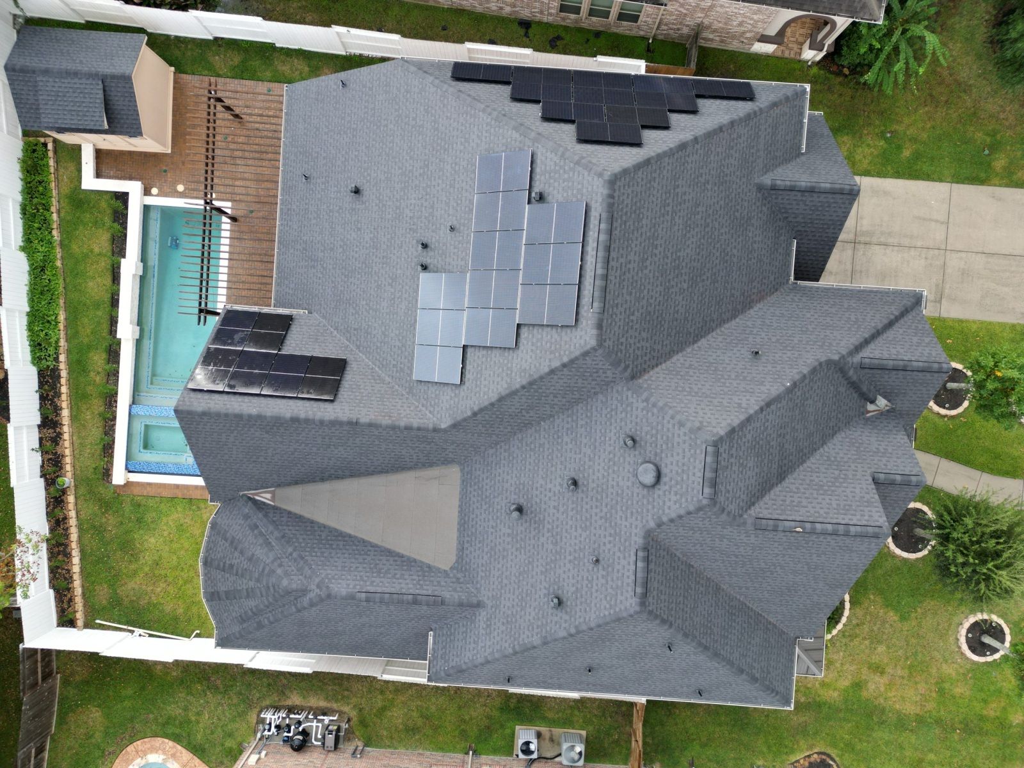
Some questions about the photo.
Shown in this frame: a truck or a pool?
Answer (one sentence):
This aerial view contains a pool.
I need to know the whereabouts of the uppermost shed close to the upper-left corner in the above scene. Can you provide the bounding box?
[5,25,176,152]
